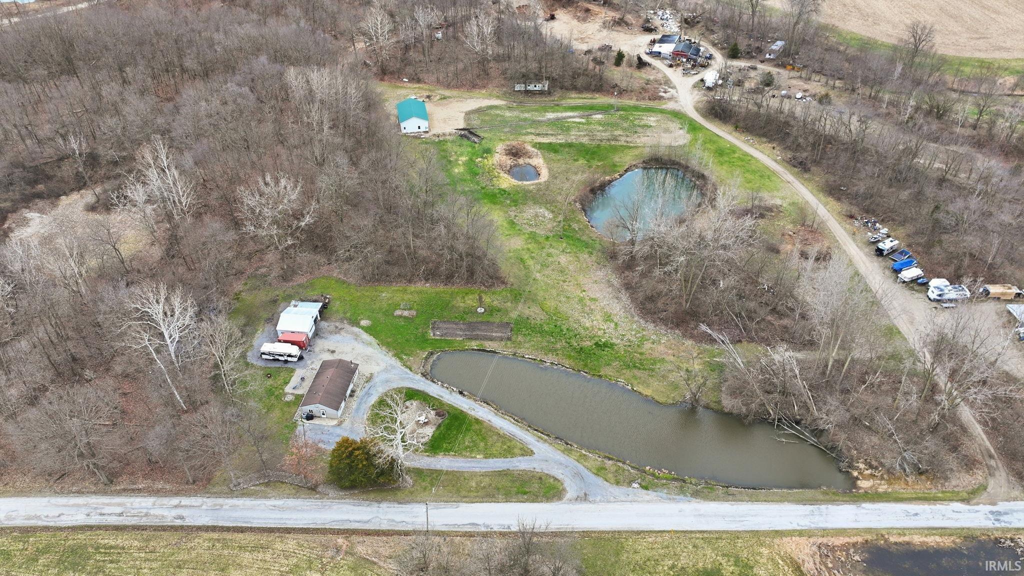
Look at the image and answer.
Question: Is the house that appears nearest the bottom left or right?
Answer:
left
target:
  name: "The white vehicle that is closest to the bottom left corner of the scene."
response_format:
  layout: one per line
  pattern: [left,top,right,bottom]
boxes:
[260,340,302,363]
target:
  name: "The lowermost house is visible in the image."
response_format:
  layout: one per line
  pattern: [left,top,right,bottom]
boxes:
[298,358,354,418]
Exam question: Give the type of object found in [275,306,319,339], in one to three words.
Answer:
building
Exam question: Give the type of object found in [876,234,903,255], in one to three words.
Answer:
vehicle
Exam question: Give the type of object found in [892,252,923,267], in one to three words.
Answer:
boat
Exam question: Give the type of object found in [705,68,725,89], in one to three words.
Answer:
vehicle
